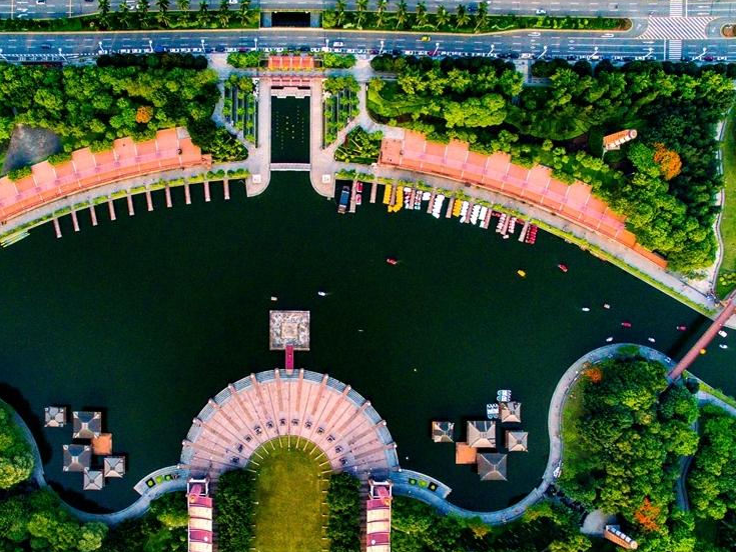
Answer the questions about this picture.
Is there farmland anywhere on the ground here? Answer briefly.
No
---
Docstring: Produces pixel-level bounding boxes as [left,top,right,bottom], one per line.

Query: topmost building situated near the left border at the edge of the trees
[0,129,205,222]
